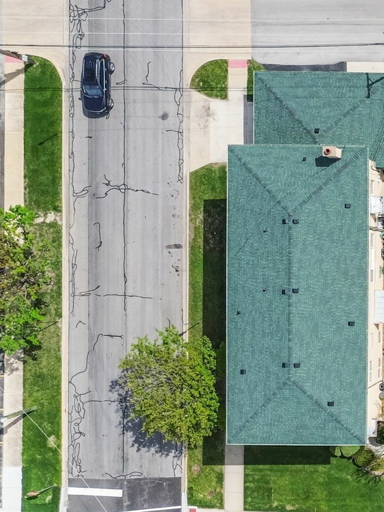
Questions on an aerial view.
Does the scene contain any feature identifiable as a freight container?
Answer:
No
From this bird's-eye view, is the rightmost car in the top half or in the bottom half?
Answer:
top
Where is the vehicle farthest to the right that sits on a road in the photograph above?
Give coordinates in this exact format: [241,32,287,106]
[83,54,119,116]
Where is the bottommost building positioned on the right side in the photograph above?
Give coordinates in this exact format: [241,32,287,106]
[225,144,384,447]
